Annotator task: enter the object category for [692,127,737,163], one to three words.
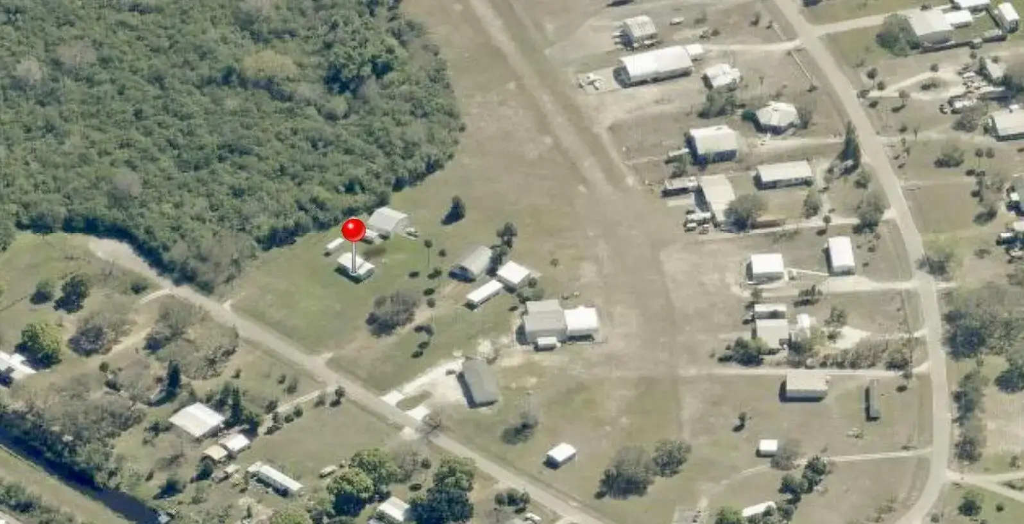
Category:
house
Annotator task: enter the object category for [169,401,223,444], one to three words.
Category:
barn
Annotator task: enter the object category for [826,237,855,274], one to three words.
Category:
building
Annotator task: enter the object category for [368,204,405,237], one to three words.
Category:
hangar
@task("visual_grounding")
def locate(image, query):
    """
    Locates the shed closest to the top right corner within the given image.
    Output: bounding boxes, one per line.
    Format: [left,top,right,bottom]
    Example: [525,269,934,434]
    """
[995,4,1018,30]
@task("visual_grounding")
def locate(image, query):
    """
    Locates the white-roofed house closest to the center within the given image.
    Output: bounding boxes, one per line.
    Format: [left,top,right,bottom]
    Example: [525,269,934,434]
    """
[497,262,532,291]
